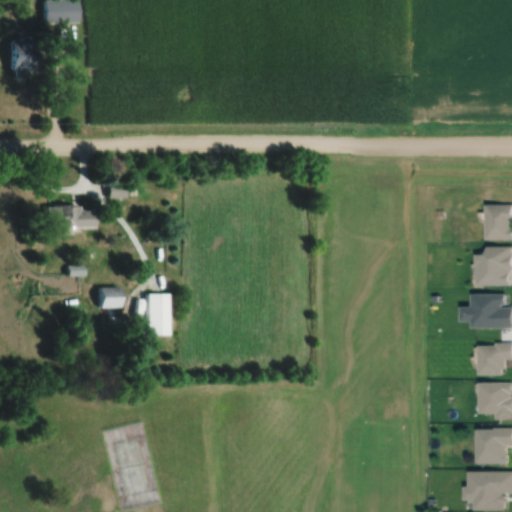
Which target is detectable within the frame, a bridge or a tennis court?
tennis court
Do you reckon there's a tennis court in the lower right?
No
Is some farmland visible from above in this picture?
Yes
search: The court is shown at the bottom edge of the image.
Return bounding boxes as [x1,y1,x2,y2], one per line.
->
[104,422,162,510]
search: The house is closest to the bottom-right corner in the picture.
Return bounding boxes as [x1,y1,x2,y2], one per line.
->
[460,472,512,510]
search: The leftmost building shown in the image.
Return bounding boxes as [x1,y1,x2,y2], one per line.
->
[13,42,38,80]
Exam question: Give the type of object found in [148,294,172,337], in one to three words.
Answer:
building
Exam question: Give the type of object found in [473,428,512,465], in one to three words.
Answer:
house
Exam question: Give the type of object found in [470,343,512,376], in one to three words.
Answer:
house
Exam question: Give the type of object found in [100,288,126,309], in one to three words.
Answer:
barn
